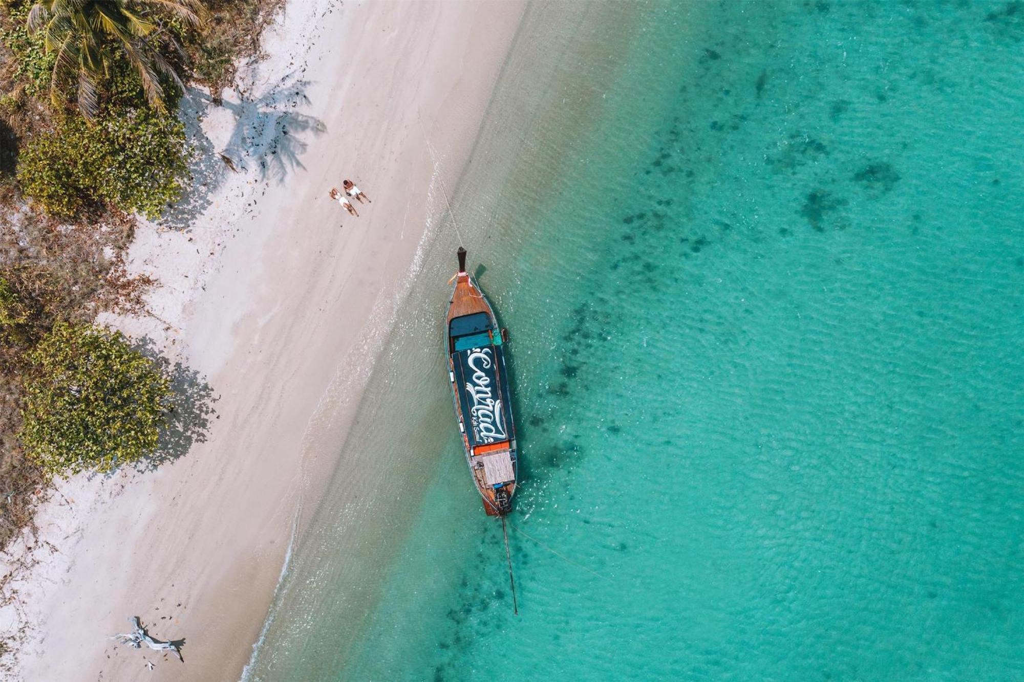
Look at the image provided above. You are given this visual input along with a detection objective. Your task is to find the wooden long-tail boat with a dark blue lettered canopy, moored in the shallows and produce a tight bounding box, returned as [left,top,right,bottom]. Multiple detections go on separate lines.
[443,248,521,614]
